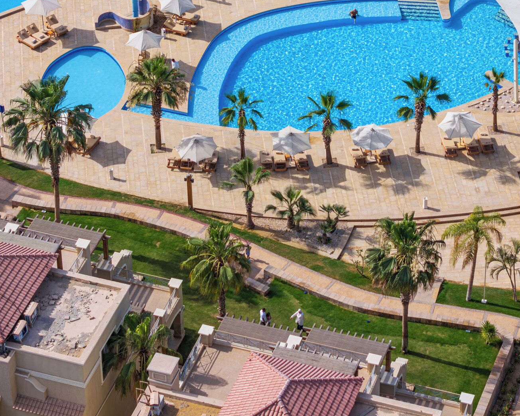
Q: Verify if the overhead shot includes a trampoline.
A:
No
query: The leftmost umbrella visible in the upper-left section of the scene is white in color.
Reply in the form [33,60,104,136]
[20,0,63,33]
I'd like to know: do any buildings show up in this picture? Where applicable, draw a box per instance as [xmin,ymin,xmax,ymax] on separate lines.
[0,213,206,416]
[139,313,486,416]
